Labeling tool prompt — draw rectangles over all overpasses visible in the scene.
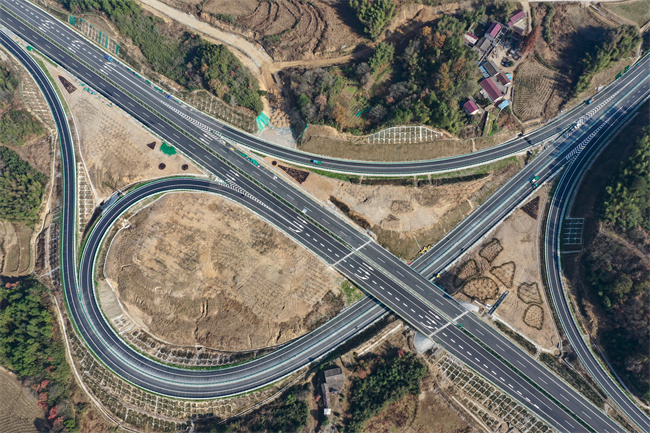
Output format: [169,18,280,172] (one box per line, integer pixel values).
[329,240,470,352]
